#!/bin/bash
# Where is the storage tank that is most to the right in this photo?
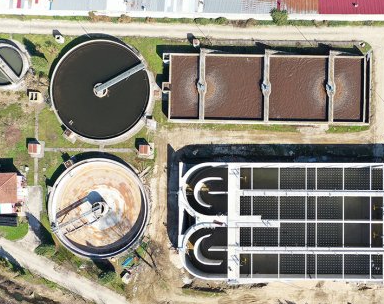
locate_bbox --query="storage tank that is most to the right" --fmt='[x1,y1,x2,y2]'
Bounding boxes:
[180,161,384,284]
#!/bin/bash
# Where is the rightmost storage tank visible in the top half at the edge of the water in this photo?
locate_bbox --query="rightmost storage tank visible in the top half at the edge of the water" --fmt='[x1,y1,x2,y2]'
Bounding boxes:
[48,37,161,149]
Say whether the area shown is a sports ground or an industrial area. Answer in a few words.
industrial area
